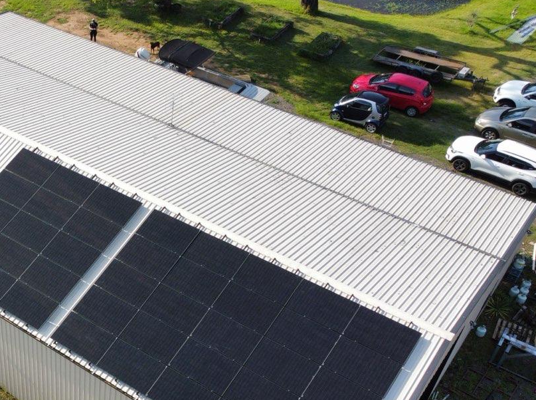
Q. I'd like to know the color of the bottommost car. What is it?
white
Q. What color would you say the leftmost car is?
black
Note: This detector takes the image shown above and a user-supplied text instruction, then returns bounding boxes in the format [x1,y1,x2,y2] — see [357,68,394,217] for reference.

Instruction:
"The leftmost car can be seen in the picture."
[330,89,394,134]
